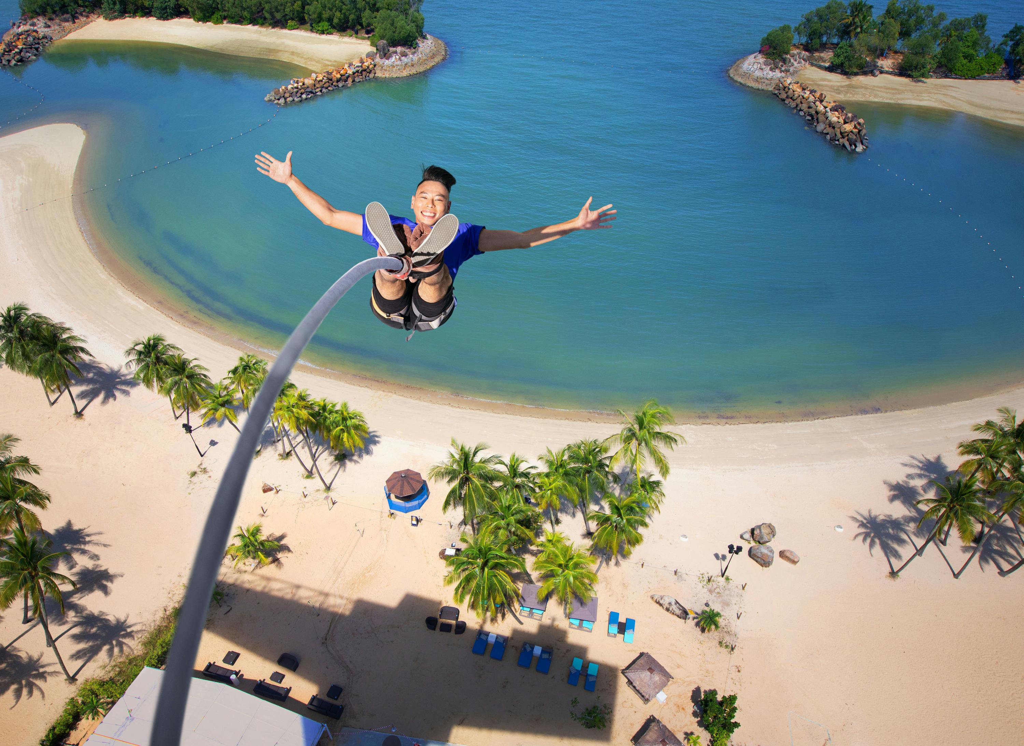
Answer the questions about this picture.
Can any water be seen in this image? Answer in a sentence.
Yes, the picture does contain water.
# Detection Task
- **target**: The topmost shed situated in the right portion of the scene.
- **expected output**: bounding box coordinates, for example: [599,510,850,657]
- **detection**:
[619,651,675,711]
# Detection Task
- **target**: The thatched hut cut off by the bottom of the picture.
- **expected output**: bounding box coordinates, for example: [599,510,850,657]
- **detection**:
[632,718,685,746]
